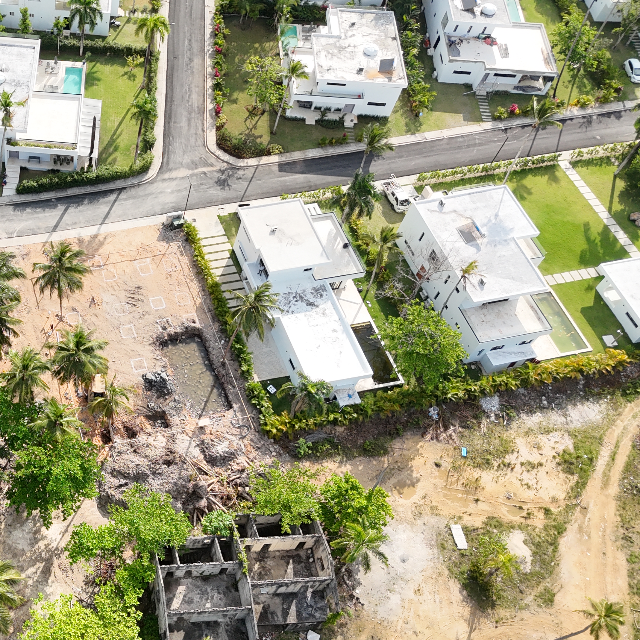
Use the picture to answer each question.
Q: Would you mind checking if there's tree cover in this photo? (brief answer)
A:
Yes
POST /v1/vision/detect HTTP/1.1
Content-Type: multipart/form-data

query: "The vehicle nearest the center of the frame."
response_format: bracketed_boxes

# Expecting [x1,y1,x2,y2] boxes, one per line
[383,174,413,211]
